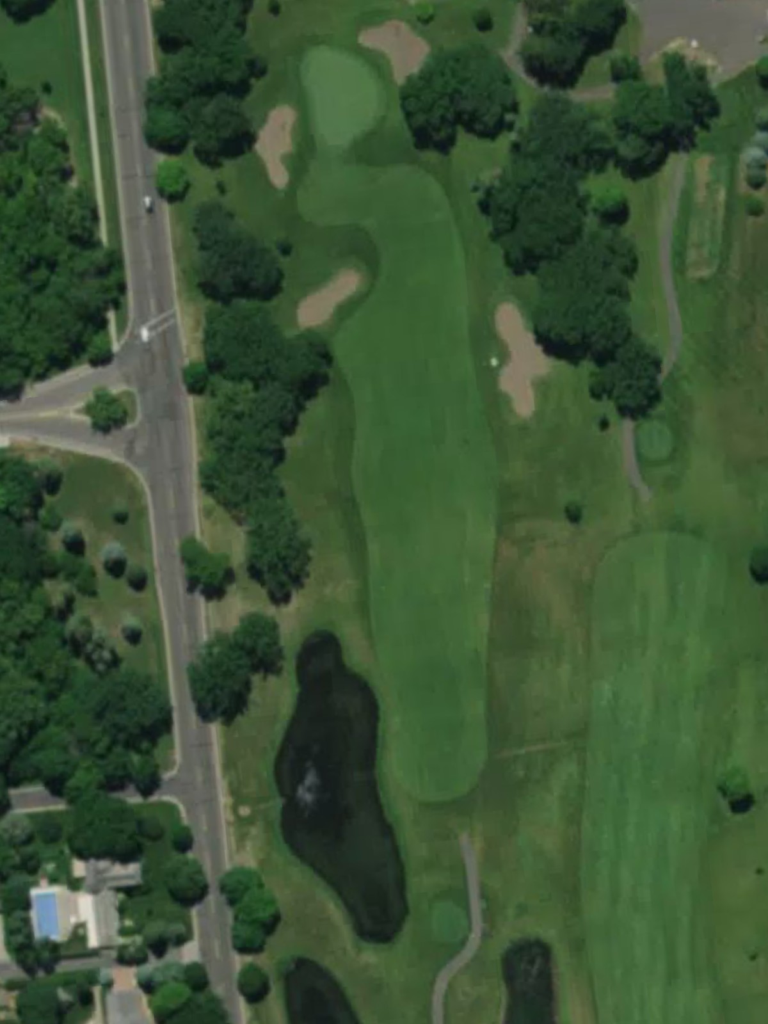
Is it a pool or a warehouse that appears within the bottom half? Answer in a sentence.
There is a pool within the bottom half.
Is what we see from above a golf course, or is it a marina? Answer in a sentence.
What you see here is a golf course.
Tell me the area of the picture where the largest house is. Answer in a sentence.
Look in the bottom left portion of the view to spot the largest house.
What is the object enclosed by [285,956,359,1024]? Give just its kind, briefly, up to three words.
pond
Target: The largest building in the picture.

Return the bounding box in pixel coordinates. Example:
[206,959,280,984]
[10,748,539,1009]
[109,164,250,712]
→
[71,859,141,949]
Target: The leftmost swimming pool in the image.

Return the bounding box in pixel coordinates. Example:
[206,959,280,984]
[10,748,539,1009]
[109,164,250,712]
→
[31,888,64,938]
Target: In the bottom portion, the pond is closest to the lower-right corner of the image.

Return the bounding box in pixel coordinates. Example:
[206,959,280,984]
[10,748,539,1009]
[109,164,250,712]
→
[504,938,555,1024]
